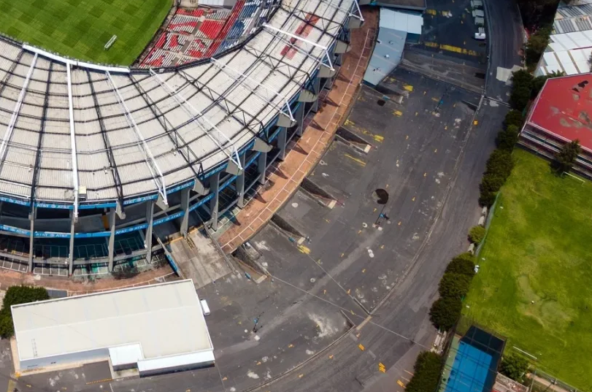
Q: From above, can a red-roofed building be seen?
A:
Yes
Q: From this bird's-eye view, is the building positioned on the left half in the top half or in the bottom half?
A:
bottom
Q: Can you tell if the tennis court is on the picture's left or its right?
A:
right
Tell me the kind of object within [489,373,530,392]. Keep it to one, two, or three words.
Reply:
house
